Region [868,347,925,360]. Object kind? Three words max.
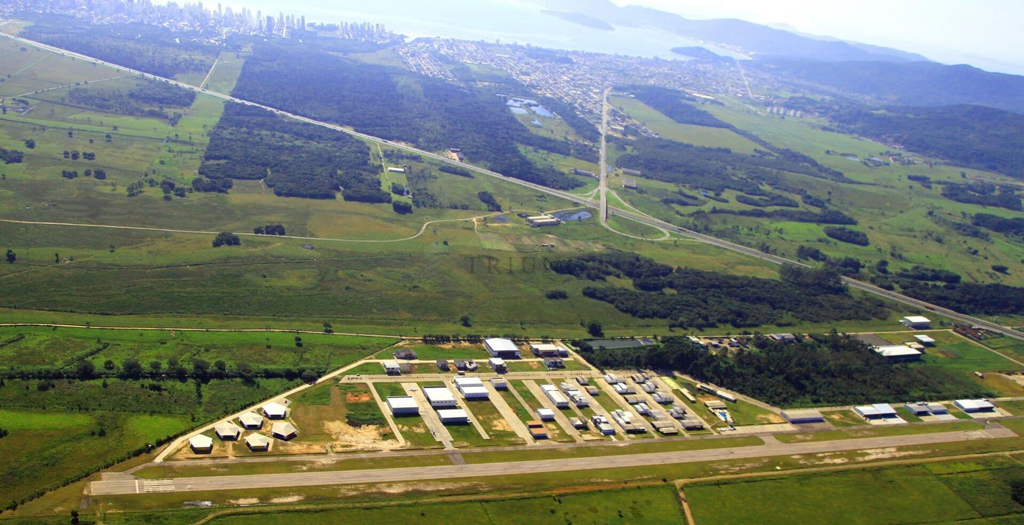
building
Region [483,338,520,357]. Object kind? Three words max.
hangar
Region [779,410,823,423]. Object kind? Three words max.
hangar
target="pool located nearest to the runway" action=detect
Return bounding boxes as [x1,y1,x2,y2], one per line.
[713,409,734,423]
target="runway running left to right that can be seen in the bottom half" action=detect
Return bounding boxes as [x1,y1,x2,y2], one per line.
[92,427,1018,495]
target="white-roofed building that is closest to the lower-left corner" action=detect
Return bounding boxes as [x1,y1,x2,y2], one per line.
[187,435,214,451]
